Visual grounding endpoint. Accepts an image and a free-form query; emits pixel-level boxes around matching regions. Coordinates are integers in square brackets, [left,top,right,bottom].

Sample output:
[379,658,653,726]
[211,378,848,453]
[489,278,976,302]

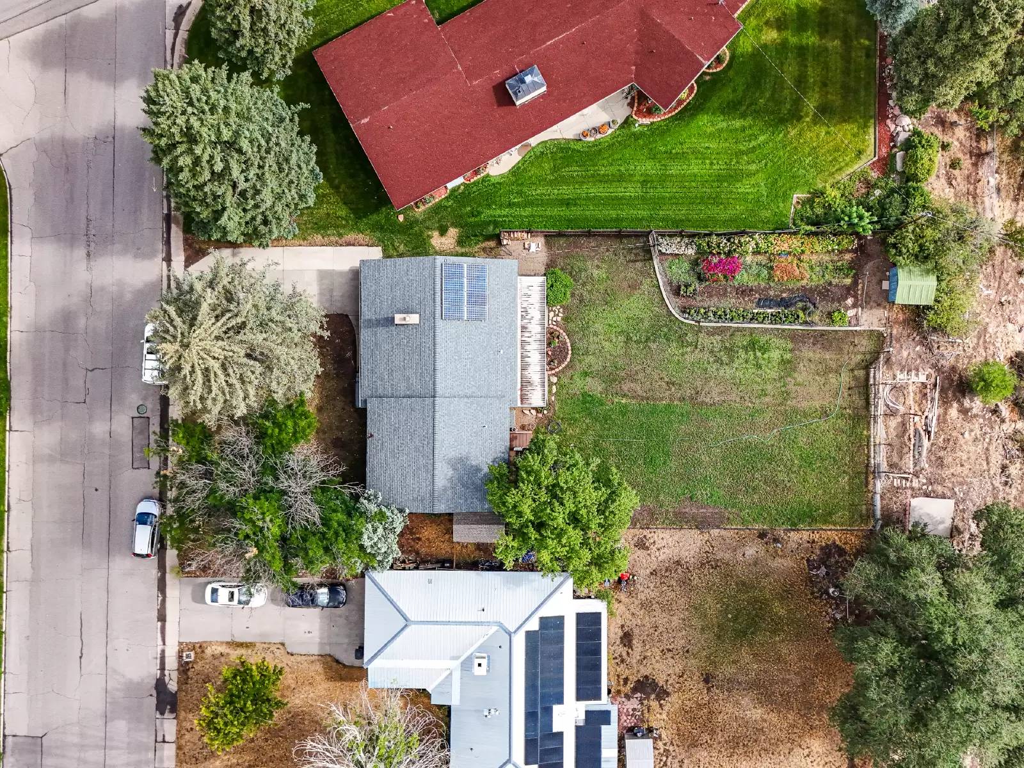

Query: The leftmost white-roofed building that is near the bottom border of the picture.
[363,570,618,768]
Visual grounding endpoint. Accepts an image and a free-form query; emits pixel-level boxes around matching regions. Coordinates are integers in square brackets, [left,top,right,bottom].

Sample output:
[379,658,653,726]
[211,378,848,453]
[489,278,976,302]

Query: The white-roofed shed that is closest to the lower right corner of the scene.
[625,736,654,768]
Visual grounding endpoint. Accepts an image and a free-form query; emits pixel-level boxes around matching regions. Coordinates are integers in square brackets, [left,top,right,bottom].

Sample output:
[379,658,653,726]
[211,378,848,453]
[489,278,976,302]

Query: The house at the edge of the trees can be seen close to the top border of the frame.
[313,0,751,210]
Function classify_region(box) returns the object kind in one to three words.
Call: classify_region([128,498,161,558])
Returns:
car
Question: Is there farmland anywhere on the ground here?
No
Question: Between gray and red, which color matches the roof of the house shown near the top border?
red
